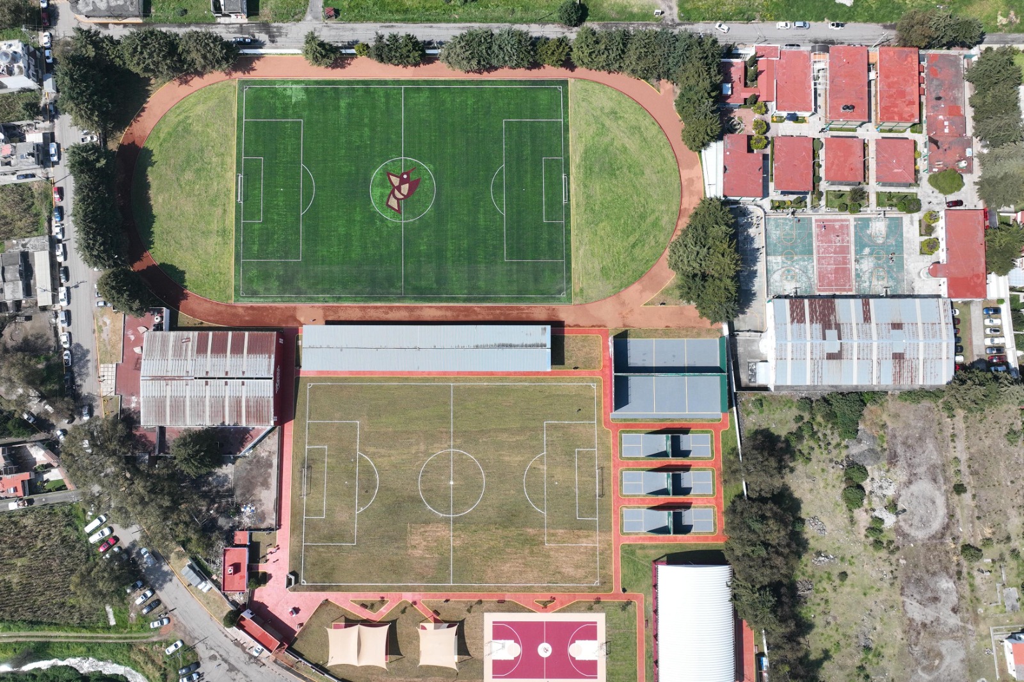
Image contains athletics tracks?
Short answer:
Yes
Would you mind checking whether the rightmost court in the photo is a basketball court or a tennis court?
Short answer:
basketball court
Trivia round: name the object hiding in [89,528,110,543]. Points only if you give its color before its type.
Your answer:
white vehicle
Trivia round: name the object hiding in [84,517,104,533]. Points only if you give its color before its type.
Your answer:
white vehicle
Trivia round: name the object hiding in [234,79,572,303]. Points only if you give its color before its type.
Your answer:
green soccer field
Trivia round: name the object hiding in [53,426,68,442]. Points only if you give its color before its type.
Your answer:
white car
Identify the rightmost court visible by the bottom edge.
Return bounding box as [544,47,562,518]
[484,613,606,682]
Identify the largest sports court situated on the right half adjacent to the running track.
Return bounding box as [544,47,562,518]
[609,333,732,418]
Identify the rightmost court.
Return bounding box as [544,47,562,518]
[854,217,905,295]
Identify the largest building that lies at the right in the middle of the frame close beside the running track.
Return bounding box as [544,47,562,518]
[767,298,955,391]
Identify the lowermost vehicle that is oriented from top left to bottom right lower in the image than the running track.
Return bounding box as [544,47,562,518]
[138,546,155,564]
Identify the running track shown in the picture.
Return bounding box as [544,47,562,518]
[113,55,736,329]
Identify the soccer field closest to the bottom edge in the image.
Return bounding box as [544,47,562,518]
[297,380,603,589]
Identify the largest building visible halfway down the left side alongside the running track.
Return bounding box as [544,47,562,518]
[140,331,283,425]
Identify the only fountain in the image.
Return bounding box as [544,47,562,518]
[726,116,745,134]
